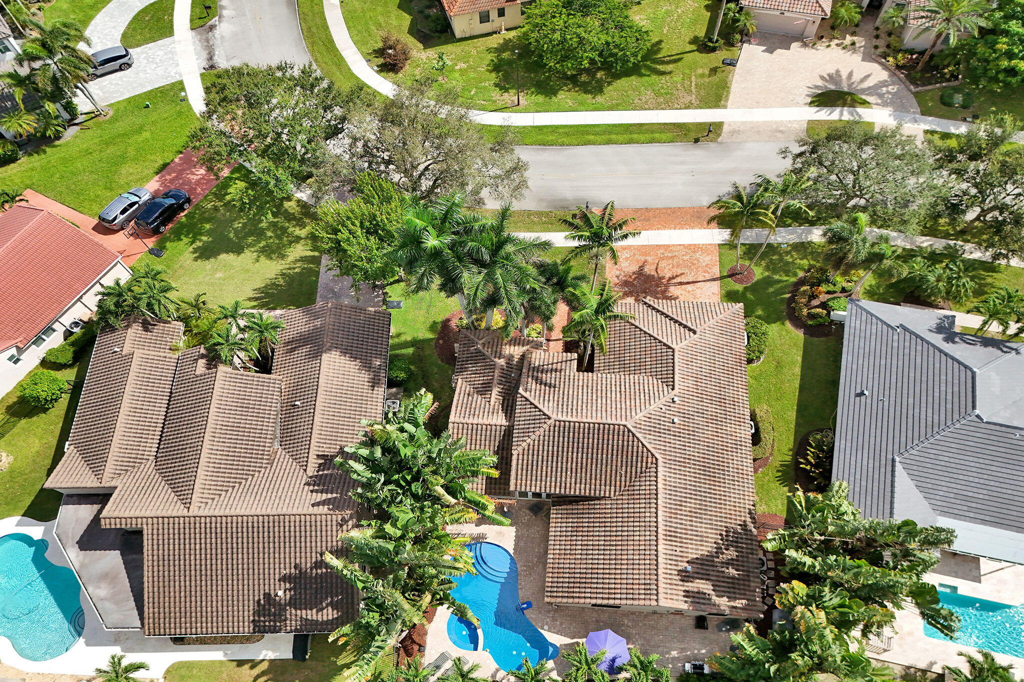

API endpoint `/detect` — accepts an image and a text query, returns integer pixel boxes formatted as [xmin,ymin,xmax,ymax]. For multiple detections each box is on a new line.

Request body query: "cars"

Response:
[131,191,189,235]
[79,45,134,79]
[92,187,153,232]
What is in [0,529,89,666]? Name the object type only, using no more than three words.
swimming pool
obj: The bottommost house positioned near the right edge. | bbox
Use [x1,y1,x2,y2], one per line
[828,298,1024,569]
